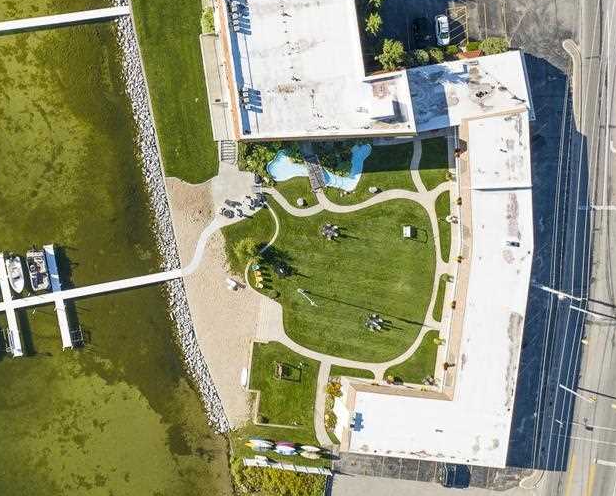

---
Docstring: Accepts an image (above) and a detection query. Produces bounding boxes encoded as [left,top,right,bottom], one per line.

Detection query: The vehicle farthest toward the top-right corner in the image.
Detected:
[434,14,451,46]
